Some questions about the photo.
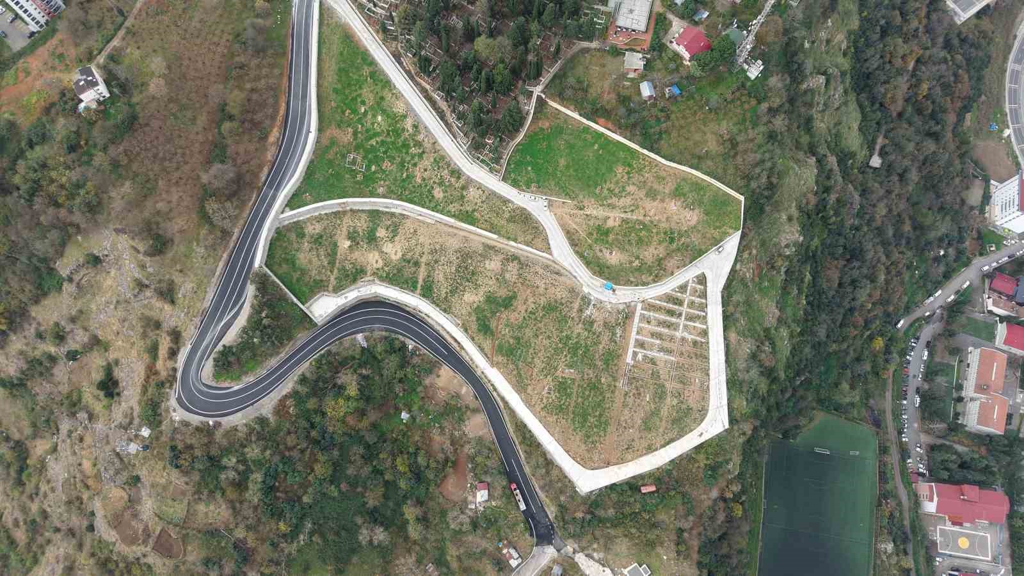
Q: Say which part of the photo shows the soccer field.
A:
bottom right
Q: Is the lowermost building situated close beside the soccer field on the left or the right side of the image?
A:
right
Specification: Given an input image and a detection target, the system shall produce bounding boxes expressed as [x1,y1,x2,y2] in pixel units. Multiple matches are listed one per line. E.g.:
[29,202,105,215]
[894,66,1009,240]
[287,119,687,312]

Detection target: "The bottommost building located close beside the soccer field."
[918,482,1009,525]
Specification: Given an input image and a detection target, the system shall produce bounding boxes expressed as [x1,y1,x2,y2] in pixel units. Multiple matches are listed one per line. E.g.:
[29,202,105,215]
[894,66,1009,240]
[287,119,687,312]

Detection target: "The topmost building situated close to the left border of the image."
[6,0,61,29]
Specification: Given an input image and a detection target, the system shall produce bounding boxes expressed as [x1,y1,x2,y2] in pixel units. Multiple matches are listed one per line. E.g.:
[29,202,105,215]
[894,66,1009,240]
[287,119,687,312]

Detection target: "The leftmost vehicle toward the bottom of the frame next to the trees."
[511,485,526,512]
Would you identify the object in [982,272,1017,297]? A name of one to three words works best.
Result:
house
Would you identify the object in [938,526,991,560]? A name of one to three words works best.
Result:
basketball court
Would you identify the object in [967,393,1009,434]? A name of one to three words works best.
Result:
building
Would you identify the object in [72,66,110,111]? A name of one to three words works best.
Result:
house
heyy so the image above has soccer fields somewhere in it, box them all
[757,410,878,576]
